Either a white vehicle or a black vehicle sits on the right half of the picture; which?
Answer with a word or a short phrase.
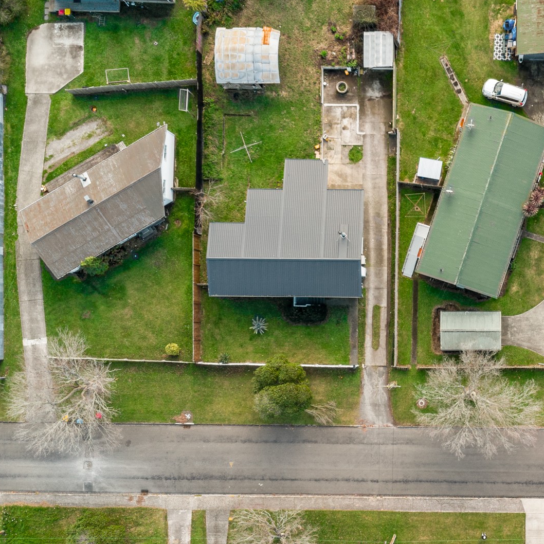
white vehicle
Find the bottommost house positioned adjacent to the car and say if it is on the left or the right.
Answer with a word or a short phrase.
right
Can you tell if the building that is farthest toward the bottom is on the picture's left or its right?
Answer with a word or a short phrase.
right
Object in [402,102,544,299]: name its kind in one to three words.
house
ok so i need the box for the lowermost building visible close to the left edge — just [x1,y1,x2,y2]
[20,119,181,279]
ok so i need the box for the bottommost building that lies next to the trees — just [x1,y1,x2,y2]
[440,310,502,351]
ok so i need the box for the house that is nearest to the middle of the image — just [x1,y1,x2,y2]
[207,159,365,306]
